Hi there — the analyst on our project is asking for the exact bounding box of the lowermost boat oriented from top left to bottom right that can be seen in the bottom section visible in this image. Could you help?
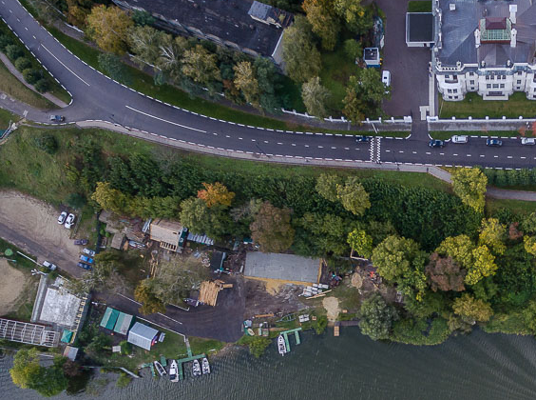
[153,360,168,376]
